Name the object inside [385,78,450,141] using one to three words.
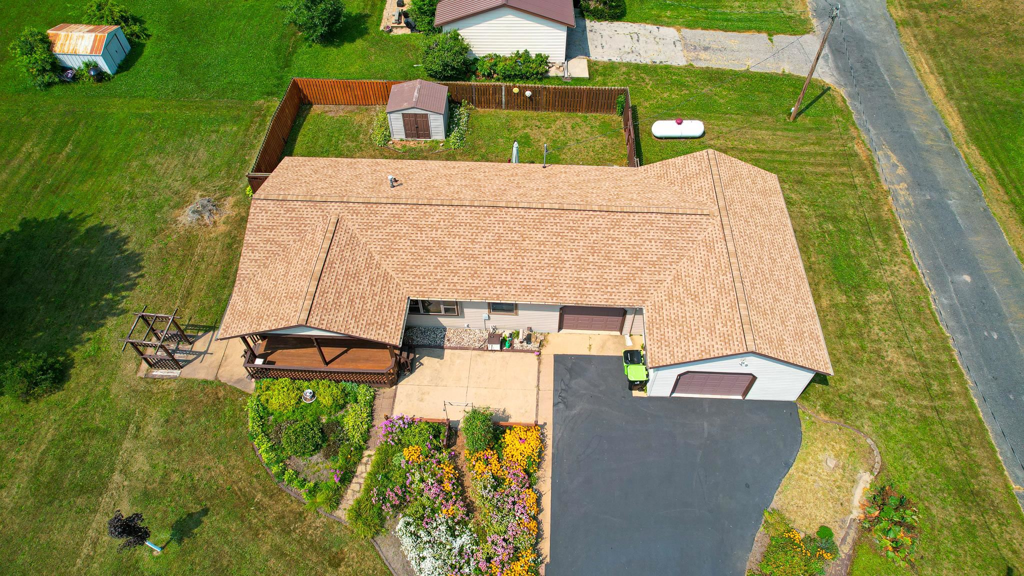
shed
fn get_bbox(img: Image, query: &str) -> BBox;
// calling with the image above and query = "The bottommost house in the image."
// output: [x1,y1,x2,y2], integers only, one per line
[215,146,834,402]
